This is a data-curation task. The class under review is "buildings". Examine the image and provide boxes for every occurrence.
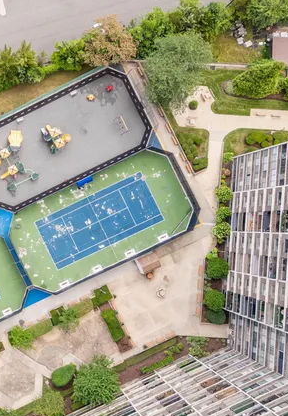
[61,143,288,416]
[264,38,288,72]
[137,252,167,277]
